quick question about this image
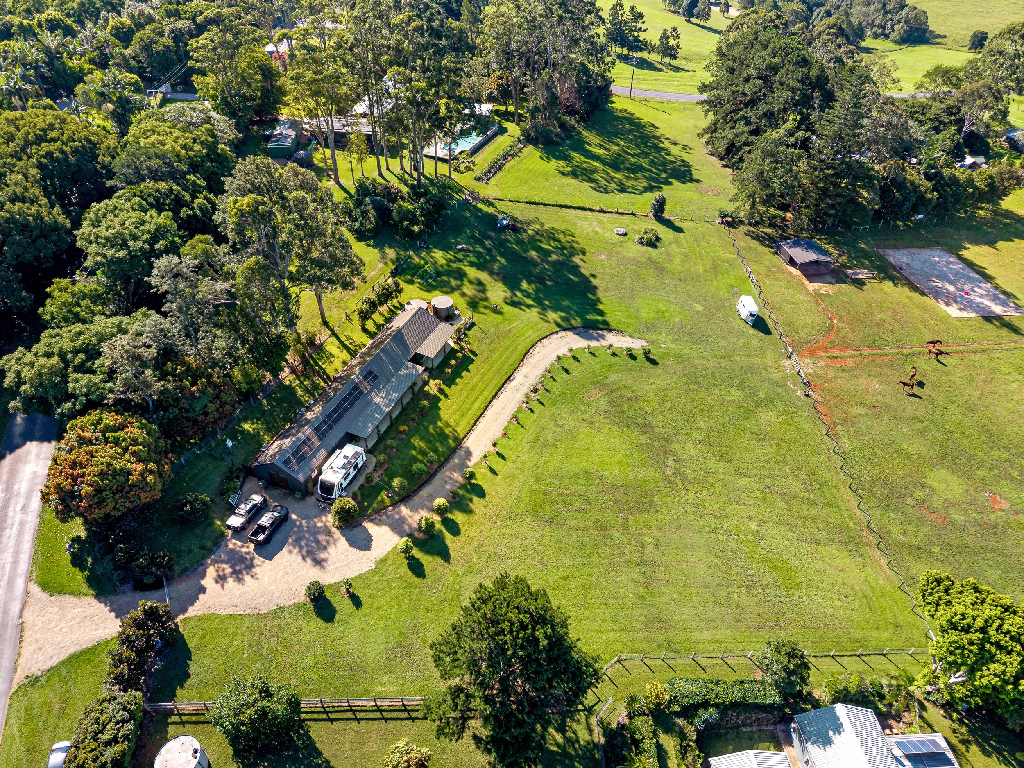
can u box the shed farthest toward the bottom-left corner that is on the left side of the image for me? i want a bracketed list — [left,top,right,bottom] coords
[253,308,460,493]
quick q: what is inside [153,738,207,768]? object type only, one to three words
water tank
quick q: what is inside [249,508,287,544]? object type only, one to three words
truck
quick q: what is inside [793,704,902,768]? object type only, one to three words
house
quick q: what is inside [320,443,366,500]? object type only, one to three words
camper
